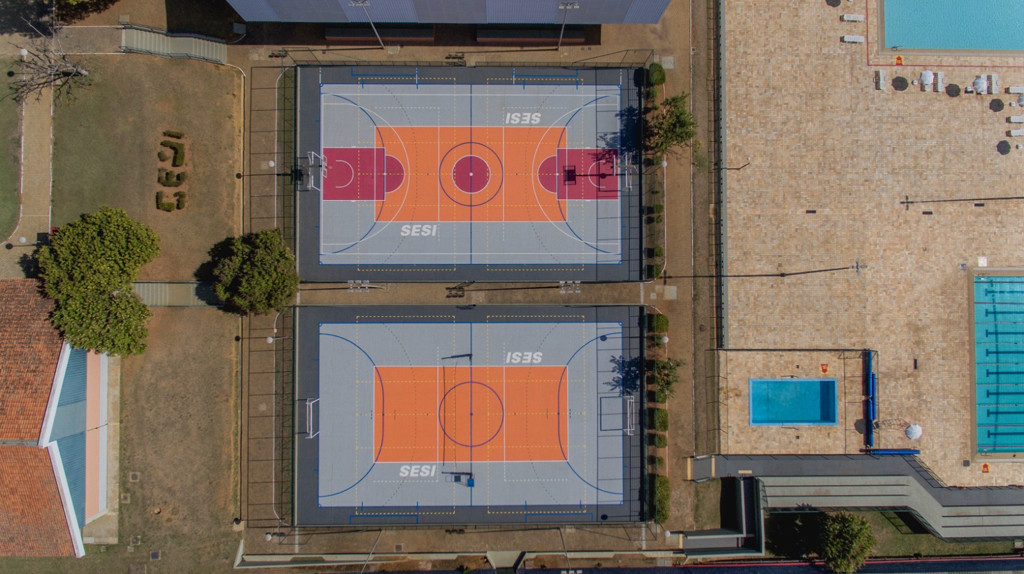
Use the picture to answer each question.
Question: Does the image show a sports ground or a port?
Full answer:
It's a sports ground.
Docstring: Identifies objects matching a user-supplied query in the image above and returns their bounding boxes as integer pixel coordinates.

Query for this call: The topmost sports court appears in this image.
[299,66,643,280]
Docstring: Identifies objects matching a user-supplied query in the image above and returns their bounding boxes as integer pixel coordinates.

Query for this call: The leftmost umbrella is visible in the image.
[915,69,936,85]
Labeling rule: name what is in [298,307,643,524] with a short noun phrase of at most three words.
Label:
sports court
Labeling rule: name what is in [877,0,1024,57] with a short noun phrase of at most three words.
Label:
swimming pool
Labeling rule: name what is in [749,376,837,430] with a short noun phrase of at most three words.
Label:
swimming pool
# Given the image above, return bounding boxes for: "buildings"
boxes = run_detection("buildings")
[0,278,108,558]
[223,0,671,23]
